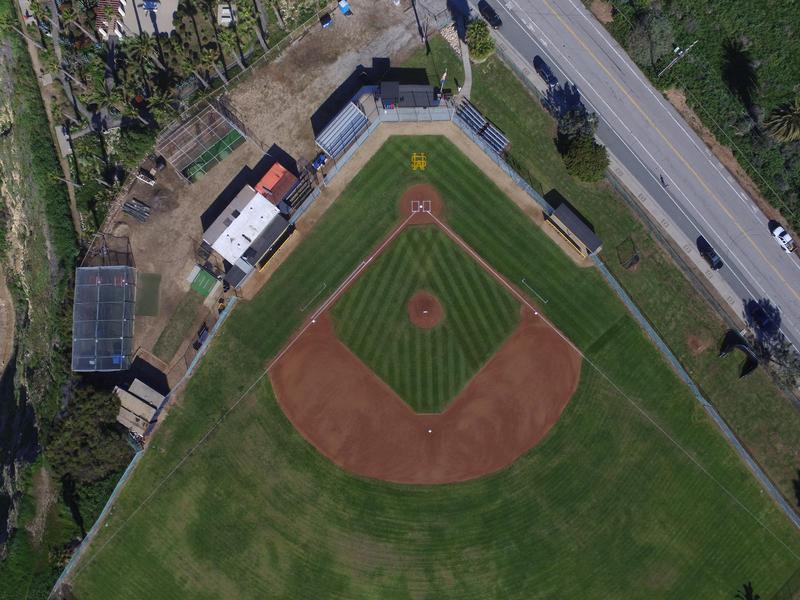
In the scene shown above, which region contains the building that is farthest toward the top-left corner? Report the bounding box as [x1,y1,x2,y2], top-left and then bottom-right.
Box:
[97,0,135,45]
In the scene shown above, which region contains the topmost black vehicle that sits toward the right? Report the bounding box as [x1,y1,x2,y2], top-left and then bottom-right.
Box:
[479,0,503,26]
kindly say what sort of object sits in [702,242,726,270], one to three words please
car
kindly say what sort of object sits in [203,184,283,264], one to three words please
building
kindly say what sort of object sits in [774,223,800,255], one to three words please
truck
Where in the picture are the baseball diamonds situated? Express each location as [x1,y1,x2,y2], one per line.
[53,123,800,600]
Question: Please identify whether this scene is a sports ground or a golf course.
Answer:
sports ground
